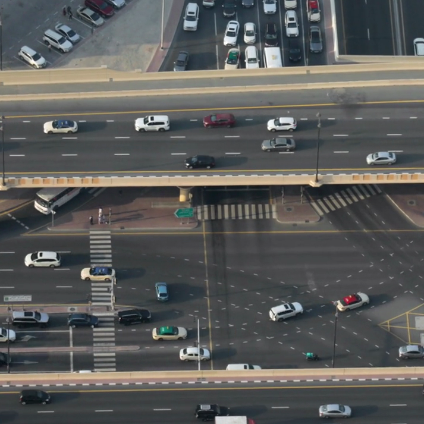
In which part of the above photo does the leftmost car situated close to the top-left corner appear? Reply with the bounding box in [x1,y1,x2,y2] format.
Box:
[17,44,47,69]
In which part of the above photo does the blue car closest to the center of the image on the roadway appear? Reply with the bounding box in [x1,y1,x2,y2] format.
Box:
[155,282,168,302]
